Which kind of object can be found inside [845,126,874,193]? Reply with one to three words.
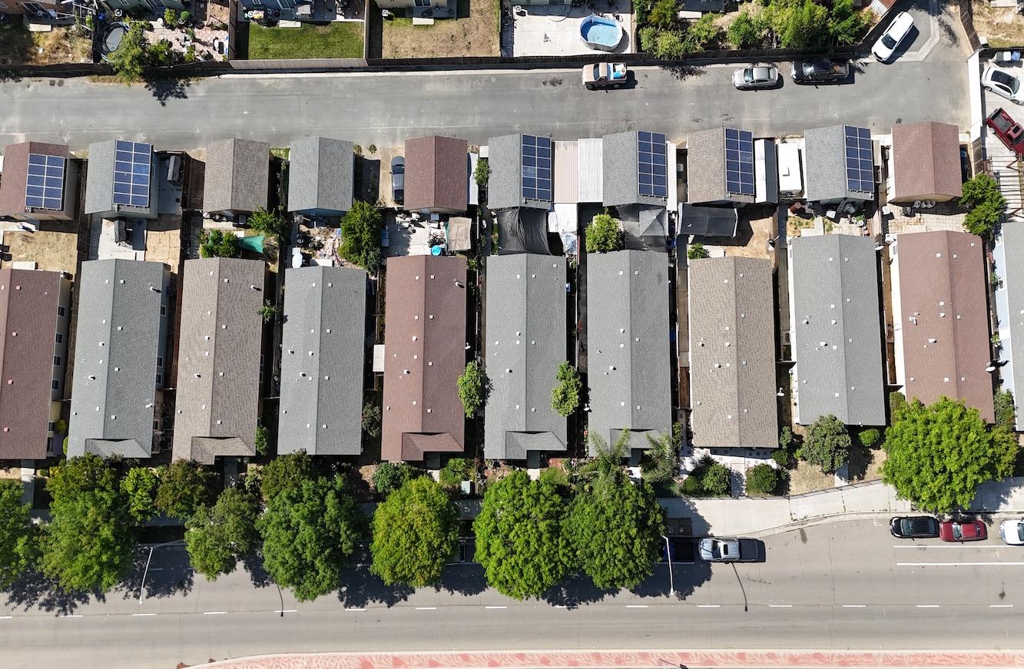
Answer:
solar array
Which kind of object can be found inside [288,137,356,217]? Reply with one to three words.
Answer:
building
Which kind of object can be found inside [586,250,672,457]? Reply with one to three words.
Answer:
house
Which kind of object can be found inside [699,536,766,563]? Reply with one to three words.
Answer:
truck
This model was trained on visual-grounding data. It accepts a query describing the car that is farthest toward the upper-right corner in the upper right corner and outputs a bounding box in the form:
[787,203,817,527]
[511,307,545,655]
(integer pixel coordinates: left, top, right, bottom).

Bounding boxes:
[981,70,1024,105]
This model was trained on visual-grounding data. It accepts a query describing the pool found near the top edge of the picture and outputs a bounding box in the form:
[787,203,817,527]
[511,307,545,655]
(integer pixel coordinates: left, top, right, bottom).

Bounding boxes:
[582,18,621,53]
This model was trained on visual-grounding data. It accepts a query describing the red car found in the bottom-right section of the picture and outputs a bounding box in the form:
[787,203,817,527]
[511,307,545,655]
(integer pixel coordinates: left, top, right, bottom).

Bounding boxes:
[937,520,988,543]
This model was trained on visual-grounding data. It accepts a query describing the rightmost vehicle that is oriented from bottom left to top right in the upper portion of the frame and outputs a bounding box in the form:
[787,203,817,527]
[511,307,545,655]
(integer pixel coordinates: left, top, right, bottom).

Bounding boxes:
[871,10,914,64]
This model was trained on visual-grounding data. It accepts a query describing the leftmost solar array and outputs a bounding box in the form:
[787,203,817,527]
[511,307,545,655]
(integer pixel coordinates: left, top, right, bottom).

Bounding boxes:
[25,154,64,211]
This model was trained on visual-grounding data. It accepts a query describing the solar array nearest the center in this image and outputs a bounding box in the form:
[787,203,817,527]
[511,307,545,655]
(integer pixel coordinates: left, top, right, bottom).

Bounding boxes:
[522,135,551,202]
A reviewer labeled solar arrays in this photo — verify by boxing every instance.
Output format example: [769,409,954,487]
[845,126,874,193]
[113,141,151,208]
[725,128,754,196]
[638,131,667,198]
[522,135,551,202]
[25,154,64,211]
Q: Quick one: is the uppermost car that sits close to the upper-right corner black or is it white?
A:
white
